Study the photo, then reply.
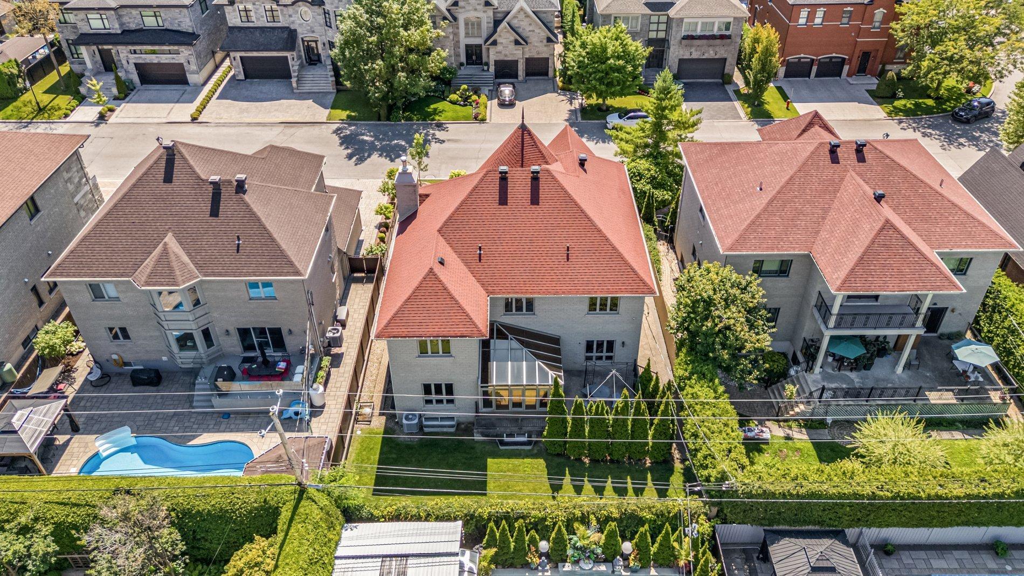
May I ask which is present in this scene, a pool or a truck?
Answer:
pool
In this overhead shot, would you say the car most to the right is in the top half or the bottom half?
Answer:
top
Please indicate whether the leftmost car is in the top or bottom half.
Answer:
top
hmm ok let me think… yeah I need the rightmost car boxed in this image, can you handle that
[955,92,1006,123]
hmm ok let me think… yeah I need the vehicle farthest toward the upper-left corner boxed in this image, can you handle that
[495,77,518,102]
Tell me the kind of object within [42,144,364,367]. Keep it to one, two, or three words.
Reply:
house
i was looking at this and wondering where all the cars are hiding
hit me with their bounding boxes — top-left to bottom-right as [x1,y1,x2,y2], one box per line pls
[955,92,1006,123]
[495,77,518,102]
[607,109,658,134]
